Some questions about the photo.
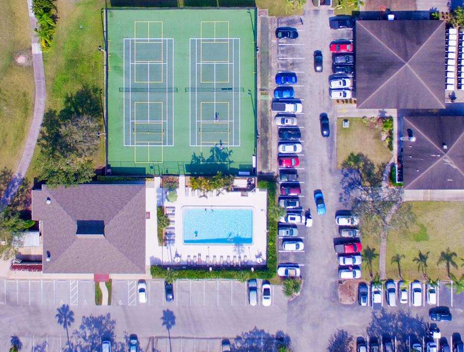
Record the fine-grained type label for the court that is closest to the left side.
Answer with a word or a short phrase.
tennis court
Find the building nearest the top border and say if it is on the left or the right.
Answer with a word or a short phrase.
right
